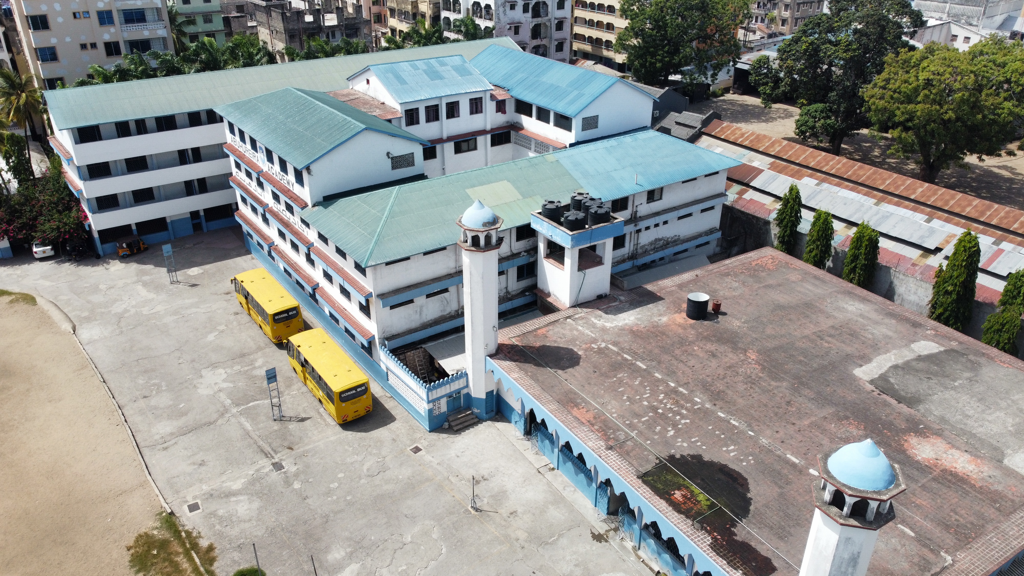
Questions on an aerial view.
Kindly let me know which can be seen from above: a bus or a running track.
bus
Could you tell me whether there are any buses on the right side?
No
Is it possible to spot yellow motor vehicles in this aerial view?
Yes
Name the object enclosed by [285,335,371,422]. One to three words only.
bus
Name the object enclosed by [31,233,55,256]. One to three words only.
car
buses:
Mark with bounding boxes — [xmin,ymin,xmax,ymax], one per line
[285,335,371,422]
[234,273,302,340]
